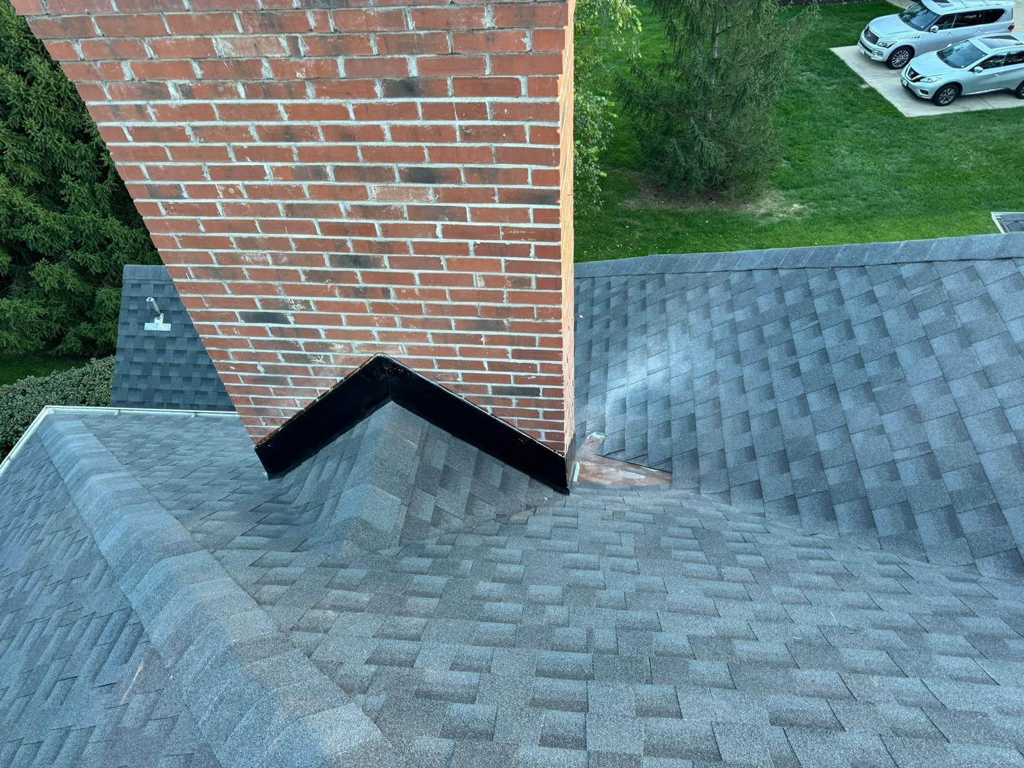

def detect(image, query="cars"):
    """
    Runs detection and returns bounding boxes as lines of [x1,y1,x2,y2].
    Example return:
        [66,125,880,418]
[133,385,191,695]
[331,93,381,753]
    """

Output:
[860,0,1024,69]
[905,33,1024,106]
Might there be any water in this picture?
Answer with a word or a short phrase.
No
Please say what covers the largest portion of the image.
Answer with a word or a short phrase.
buildings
